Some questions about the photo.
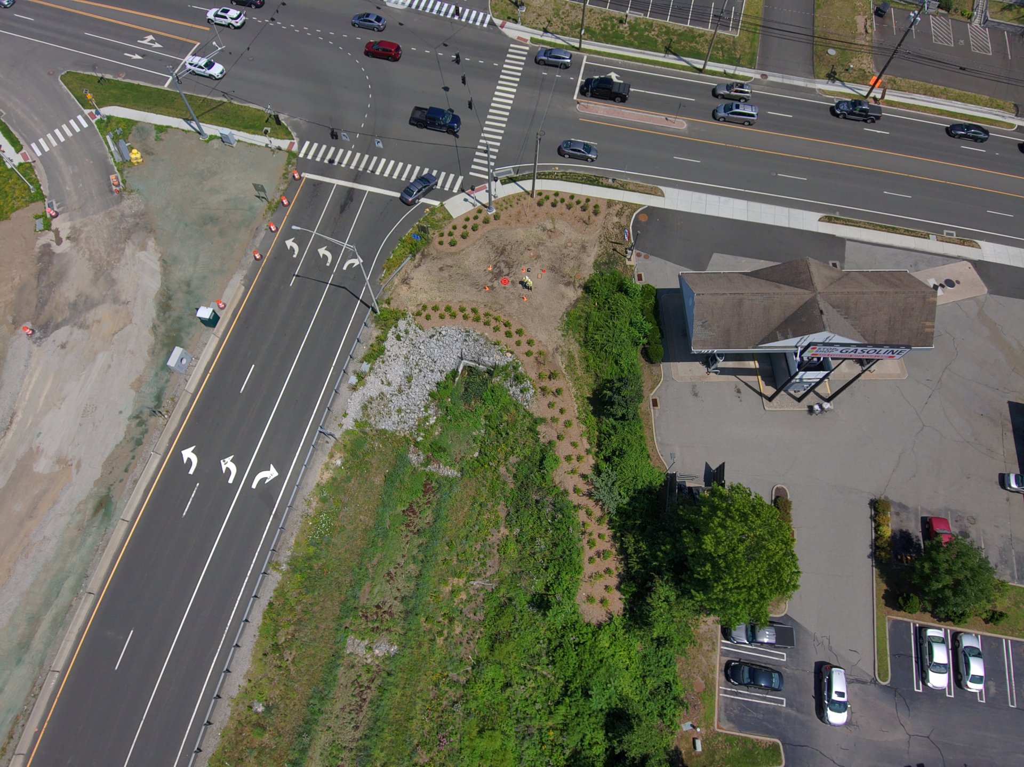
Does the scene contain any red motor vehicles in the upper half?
Yes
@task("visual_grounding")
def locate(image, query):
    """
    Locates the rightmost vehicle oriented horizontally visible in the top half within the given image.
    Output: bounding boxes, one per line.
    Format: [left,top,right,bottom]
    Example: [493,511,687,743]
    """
[945,122,991,145]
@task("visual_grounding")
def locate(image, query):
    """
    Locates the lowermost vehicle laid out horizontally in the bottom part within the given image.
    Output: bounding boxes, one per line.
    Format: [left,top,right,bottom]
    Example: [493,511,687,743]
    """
[724,660,783,690]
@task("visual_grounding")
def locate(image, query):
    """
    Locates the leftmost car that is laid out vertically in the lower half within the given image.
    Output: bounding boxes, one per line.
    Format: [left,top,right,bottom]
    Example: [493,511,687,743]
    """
[818,662,851,727]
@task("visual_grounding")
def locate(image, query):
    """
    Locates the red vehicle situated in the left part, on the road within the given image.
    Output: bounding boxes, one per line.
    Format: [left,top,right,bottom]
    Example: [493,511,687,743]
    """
[365,40,402,63]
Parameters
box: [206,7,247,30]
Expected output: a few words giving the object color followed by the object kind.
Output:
white car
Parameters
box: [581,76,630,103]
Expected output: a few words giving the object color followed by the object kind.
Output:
black truck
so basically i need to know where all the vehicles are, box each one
[921,509,958,547]
[832,98,882,124]
[399,175,438,206]
[918,628,950,691]
[365,40,402,63]
[726,620,793,648]
[350,12,388,34]
[713,101,758,127]
[818,662,851,727]
[185,56,225,81]
[409,107,460,135]
[952,633,984,695]
[712,82,753,104]
[945,122,991,145]
[230,0,267,11]
[206,7,247,30]
[724,660,783,690]
[557,141,599,164]
[535,47,572,69]
[581,76,630,103]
